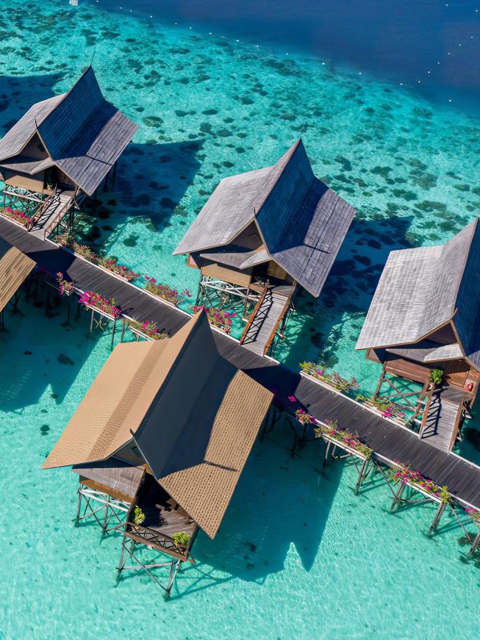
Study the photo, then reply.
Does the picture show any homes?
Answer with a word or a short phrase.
Yes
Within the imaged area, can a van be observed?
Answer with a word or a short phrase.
No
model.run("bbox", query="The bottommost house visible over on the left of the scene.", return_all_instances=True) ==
[41,287,270,599]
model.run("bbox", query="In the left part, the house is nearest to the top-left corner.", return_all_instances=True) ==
[0,48,139,237]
